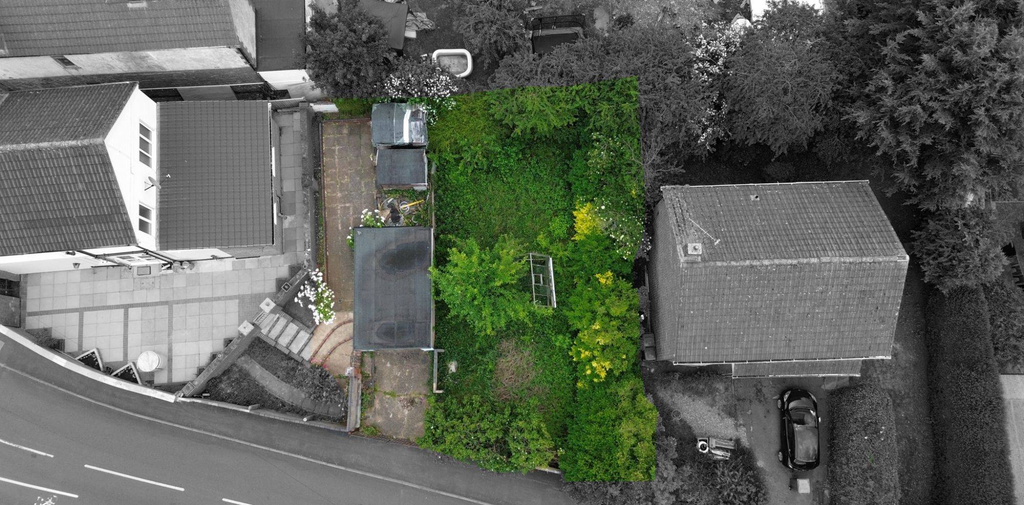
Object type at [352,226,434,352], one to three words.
building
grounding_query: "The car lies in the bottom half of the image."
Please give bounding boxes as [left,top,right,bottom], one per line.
[776,388,826,475]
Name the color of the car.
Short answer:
black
